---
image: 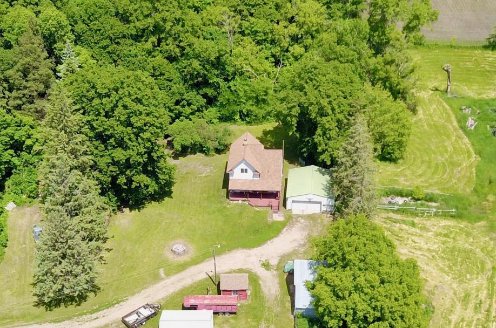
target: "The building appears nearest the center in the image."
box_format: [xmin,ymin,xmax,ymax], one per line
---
[227,133,283,216]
